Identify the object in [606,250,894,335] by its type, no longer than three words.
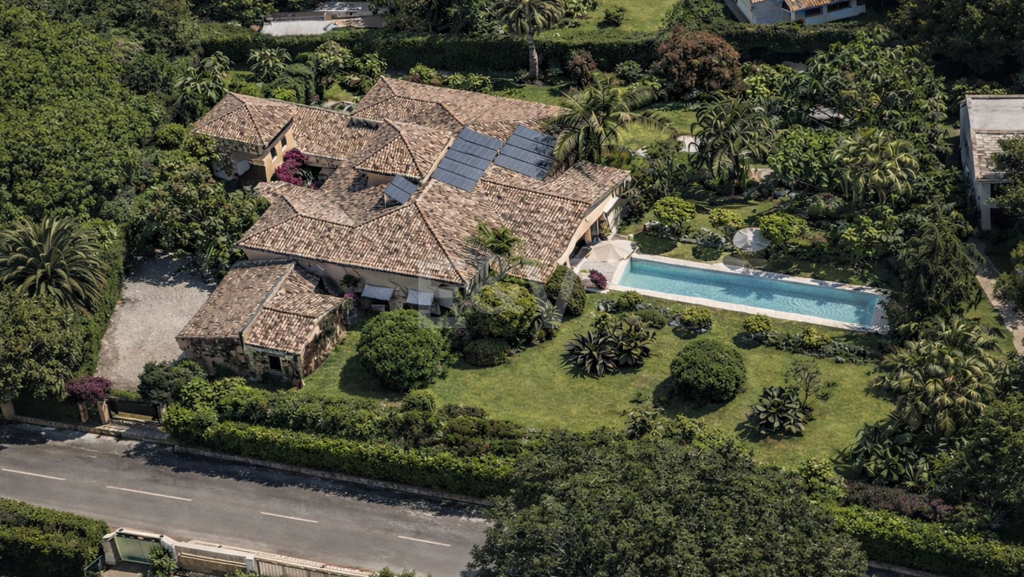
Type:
swimming pool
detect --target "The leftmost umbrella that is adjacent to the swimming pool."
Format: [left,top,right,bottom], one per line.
[586,235,637,279]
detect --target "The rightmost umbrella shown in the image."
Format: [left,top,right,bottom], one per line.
[732,228,769,265]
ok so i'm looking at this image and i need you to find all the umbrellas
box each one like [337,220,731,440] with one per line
[586,235,637,279]
[732,228,769,265]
